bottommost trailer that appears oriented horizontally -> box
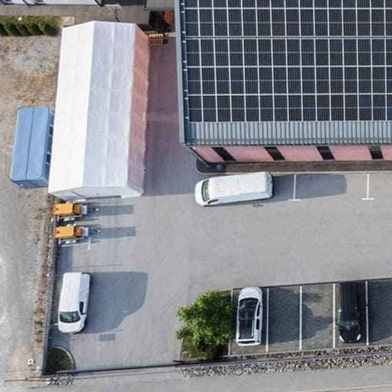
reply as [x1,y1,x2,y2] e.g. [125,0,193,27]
[49,226,97,248]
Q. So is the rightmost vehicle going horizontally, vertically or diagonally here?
vertically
